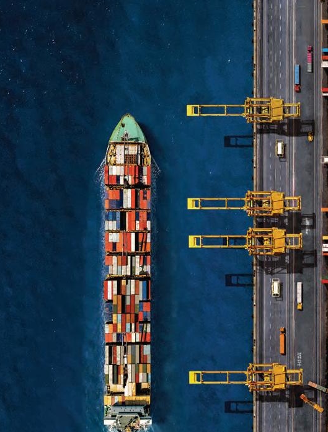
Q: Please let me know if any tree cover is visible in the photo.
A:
No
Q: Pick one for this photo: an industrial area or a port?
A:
port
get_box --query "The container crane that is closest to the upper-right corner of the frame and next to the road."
[186,97,300,128]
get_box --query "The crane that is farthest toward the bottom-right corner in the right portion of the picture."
[189,362,302,393]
